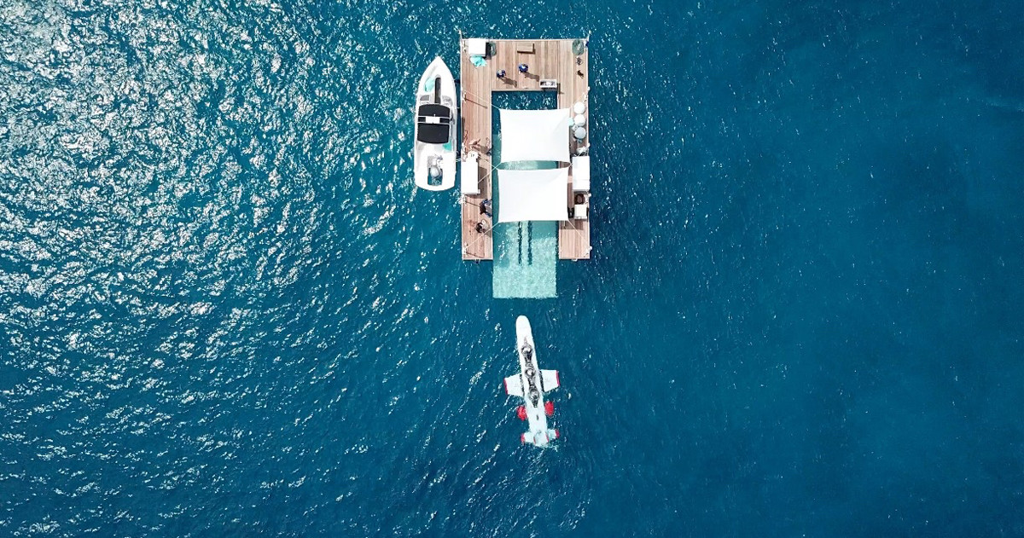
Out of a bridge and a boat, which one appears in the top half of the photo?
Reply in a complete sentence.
You can see a boat in the top half of the photo.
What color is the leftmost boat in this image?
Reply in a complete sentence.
From above, the leftmost boat appears white.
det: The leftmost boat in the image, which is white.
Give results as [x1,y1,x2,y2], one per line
[415,56,458,191]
